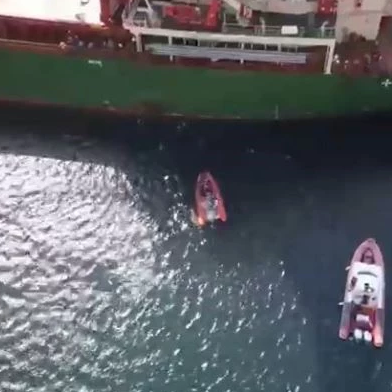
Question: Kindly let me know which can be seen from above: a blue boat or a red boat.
red boat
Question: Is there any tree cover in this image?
No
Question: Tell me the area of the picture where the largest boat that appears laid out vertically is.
bottom right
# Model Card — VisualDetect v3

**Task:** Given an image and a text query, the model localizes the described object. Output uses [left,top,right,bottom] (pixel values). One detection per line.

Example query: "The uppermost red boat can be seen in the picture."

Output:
[160,1,204,22]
